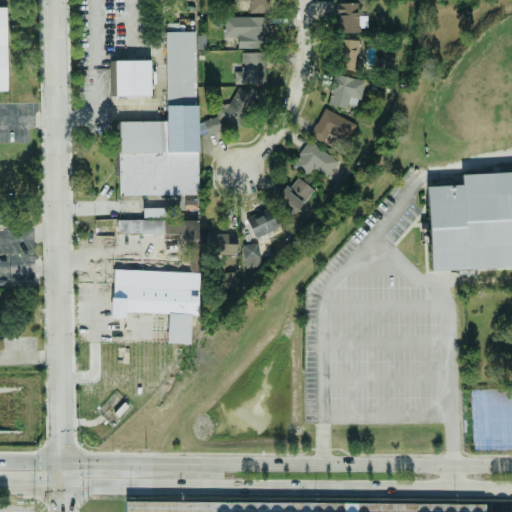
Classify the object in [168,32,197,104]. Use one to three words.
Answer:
building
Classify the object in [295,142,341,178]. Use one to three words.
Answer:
house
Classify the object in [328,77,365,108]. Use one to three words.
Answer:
house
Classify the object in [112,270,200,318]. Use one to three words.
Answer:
building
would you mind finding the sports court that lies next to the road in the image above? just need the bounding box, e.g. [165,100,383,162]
[472,390,512,451]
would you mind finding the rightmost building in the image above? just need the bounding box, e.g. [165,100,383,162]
[422,172,512,271]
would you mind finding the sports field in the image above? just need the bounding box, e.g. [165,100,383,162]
[441,16,512,145]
